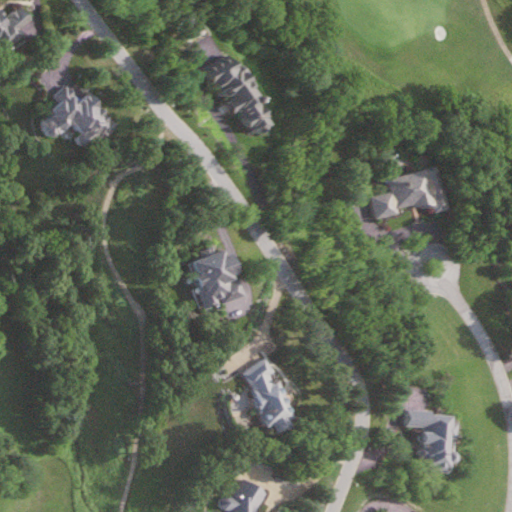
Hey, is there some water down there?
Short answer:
No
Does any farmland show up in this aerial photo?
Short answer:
No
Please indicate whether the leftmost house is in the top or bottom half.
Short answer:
top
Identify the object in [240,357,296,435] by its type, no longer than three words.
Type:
house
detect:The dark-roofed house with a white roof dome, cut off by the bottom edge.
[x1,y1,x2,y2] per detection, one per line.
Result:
[218,474,272,512]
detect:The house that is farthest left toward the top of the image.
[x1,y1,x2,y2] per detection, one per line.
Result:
[0,6,35,39]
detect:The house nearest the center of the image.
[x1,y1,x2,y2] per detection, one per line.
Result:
[190,244,248,308]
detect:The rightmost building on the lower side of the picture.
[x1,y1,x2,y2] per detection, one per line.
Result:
[402,411,460,473]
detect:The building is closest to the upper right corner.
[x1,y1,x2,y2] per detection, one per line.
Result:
[371,166,450,222]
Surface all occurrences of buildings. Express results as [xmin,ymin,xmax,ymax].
[190,244,248,308]
[402,411,460,473]
[371,166,450,222]
[218,474,272,512]
[240,357,296,435]
[204,54,276,138]
[0,6,35,39]
[40,85,110,148]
